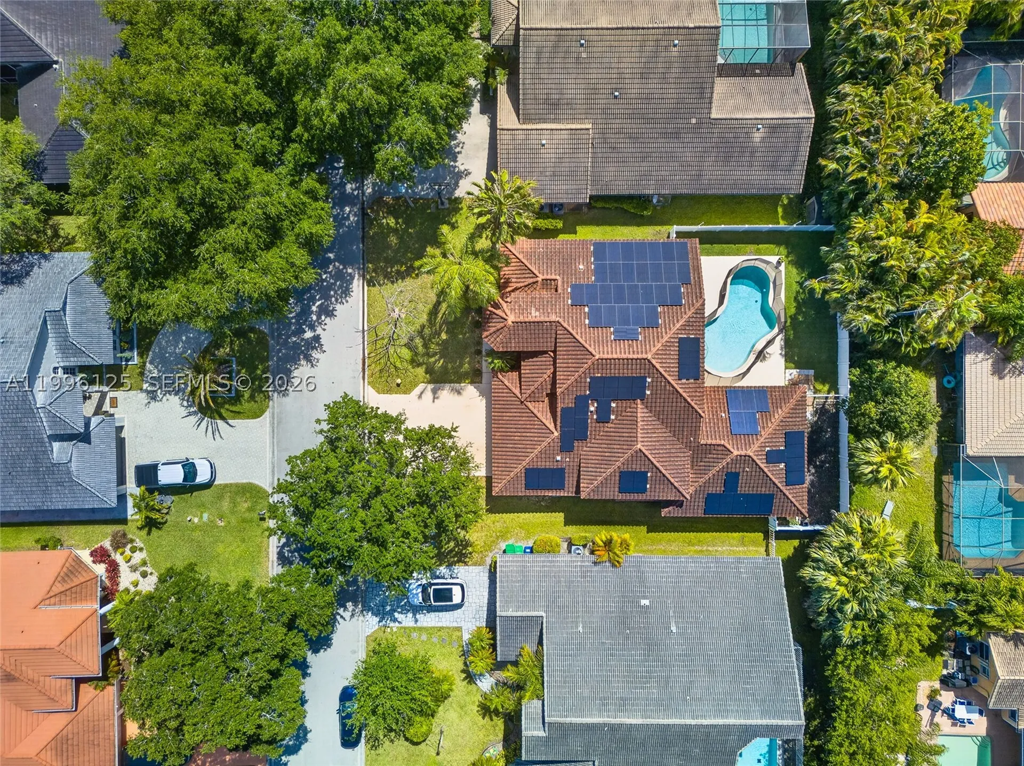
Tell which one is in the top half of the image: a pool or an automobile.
pool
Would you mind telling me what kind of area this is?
residential area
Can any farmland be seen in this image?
No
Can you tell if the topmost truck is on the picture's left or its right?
left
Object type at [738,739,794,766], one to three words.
swimming pool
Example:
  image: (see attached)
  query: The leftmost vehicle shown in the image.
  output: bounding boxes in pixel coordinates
[134,456,219,489]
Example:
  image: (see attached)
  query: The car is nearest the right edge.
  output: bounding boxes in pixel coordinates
[407,578,468,611]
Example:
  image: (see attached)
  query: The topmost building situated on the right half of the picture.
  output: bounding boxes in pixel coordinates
[490,0,817,205]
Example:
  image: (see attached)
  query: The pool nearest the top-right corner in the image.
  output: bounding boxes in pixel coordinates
[953,61,1016,183]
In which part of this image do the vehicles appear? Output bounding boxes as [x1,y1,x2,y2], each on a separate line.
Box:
[407,578,468,611]
[335,684,366,751]
[134,456,219,489]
